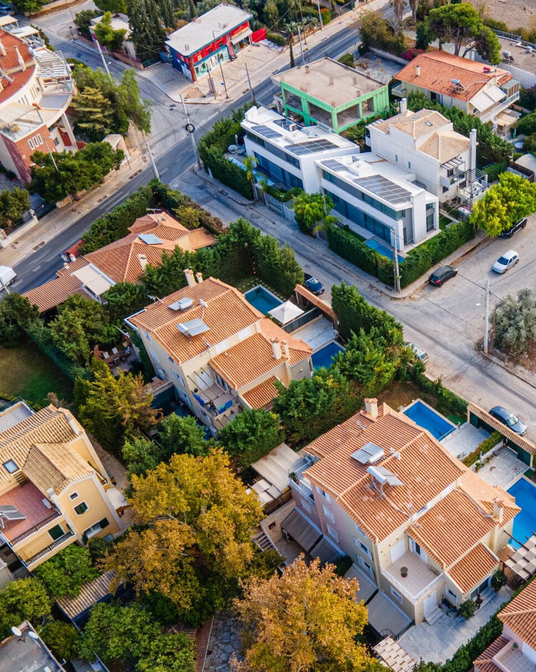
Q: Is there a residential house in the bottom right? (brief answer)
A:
Yes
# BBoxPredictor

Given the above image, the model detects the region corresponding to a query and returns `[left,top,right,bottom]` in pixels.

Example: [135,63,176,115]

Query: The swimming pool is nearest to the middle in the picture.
[242,281,289,313]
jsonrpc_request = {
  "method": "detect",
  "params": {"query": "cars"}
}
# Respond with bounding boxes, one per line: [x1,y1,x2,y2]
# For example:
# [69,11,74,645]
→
[484,399,532,438]
[406,339,436,366]
[490,248,523,274]
[299,271,330,299]
[427,265,459,287]
[498,213,531,239]
[2,4,14,14]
